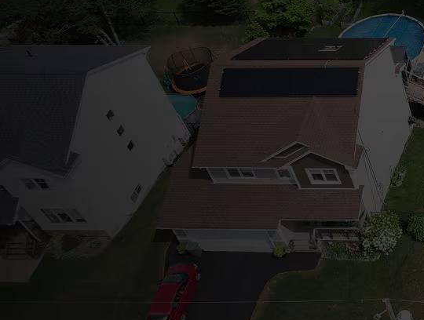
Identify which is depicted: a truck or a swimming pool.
swimming pool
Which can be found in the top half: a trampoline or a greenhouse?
trampoline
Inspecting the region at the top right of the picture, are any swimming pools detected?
Yes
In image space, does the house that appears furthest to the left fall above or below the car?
above it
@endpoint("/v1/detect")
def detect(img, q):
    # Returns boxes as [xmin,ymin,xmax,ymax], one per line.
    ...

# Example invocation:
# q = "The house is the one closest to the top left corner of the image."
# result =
[0,43,189,272]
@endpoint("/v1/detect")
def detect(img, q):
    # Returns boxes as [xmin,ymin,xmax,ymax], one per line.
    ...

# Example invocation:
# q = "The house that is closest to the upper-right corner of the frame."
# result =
[159,37,412,259]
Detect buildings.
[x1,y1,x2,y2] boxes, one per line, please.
[159,37,412,259]
[0,43,189,272]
